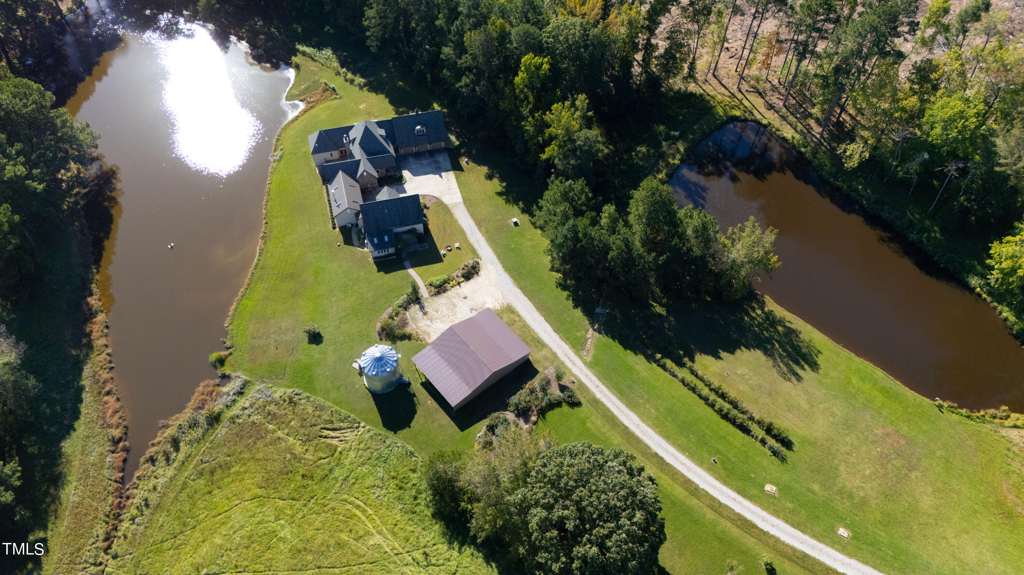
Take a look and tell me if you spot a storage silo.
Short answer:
Yes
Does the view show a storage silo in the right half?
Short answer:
No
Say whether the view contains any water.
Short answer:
Yes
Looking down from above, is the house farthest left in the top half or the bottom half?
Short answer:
top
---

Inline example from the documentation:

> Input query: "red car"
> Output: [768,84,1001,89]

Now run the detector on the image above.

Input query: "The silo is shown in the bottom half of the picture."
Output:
[354,345,410,395]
